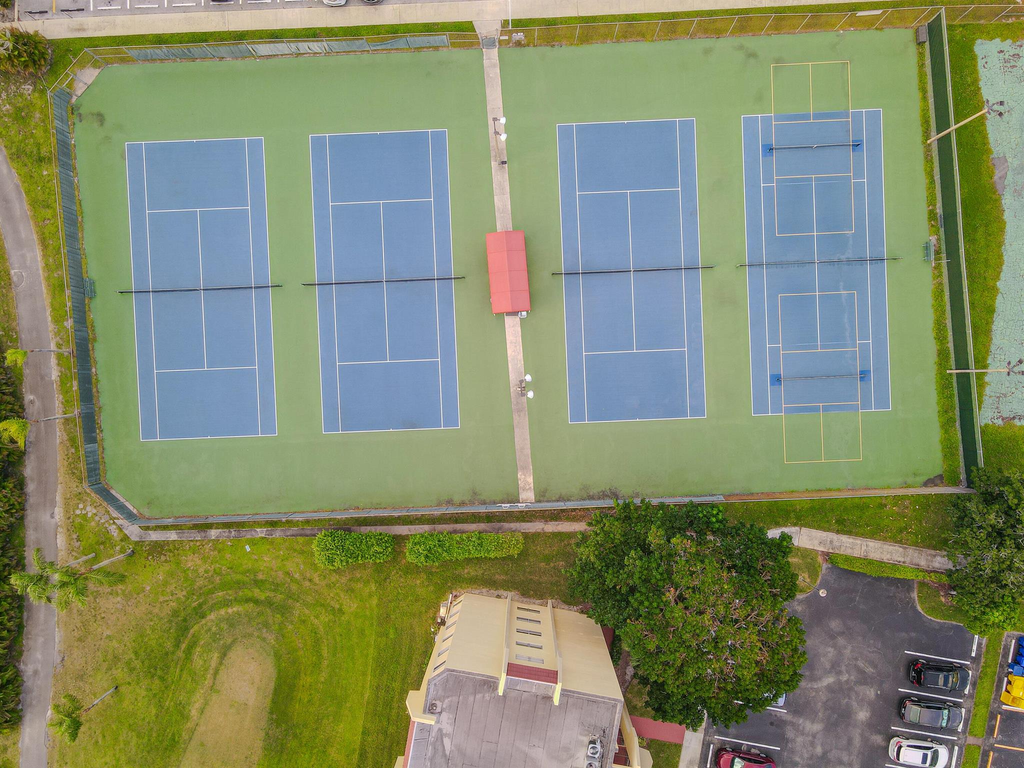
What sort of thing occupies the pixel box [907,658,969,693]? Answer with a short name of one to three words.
car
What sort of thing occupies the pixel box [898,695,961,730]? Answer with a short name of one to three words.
car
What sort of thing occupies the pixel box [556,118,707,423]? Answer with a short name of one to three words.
tennis court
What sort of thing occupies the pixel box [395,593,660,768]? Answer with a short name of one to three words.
building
